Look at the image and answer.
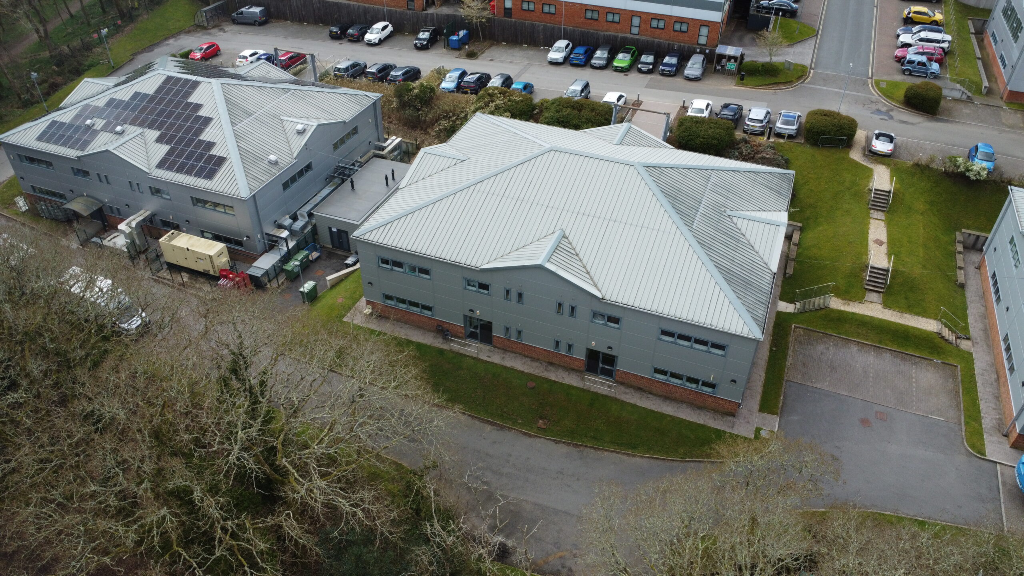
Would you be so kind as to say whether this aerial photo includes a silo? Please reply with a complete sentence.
No, I can't see a single silo in this photo.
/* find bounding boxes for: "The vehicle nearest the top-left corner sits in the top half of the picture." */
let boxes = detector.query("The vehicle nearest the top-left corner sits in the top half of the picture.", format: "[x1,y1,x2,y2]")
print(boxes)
[184,38,221,60]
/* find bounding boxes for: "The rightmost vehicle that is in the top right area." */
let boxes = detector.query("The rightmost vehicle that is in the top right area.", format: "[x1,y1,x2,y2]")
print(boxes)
[967,138,1002,167]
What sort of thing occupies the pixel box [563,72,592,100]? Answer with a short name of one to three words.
car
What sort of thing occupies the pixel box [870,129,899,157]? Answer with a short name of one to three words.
car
